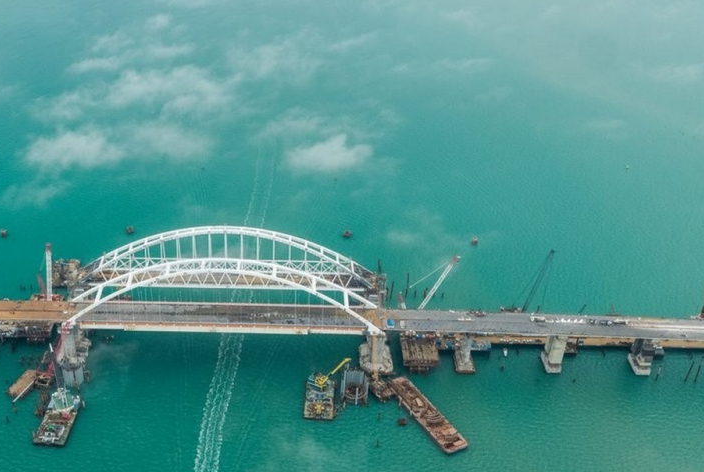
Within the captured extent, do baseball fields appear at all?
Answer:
No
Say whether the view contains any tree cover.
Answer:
No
